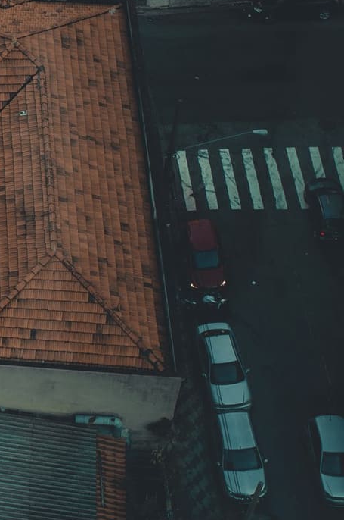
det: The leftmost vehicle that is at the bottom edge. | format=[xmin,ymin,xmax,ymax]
[210,412,272,505]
